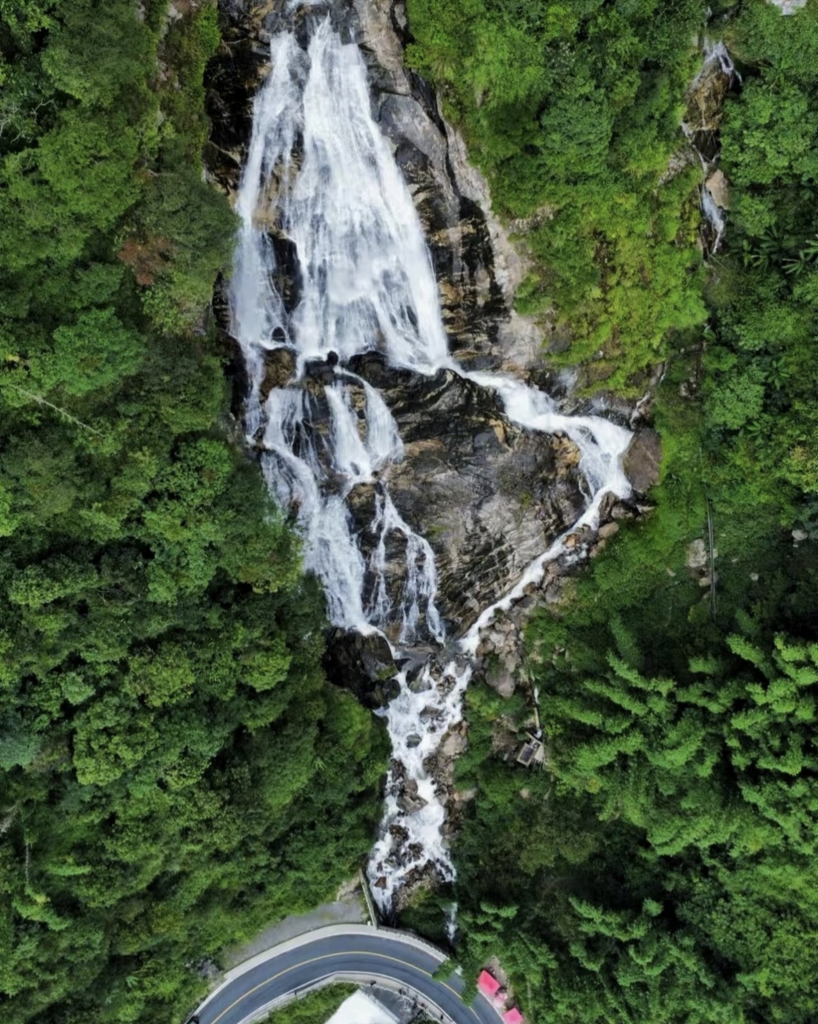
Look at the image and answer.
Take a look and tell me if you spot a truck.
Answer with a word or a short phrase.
No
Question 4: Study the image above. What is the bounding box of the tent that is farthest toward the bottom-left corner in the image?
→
[326,985,410,1024]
